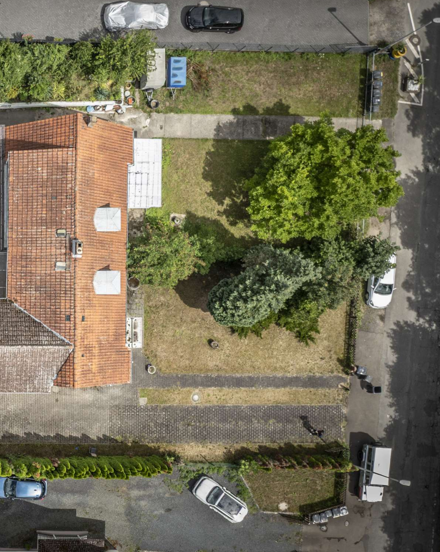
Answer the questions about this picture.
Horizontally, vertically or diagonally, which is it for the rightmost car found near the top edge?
horizontally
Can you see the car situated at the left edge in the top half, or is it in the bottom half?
bottom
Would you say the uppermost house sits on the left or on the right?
left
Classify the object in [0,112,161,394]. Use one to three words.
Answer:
house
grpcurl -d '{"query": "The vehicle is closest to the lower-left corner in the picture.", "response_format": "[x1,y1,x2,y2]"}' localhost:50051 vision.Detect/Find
[0,473,47,503]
